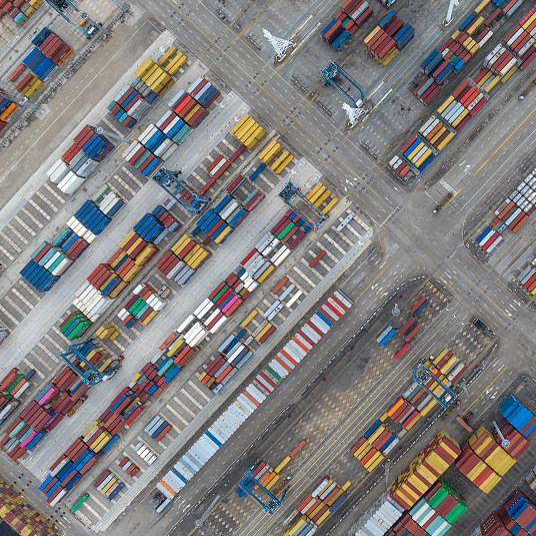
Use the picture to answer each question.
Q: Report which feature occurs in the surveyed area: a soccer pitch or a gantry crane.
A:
gantry crane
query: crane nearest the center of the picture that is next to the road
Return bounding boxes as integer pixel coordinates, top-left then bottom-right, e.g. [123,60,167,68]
[279,181,331,230]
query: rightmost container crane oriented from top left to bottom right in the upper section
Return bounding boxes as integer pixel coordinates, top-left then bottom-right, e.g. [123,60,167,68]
[320,62,366,109]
